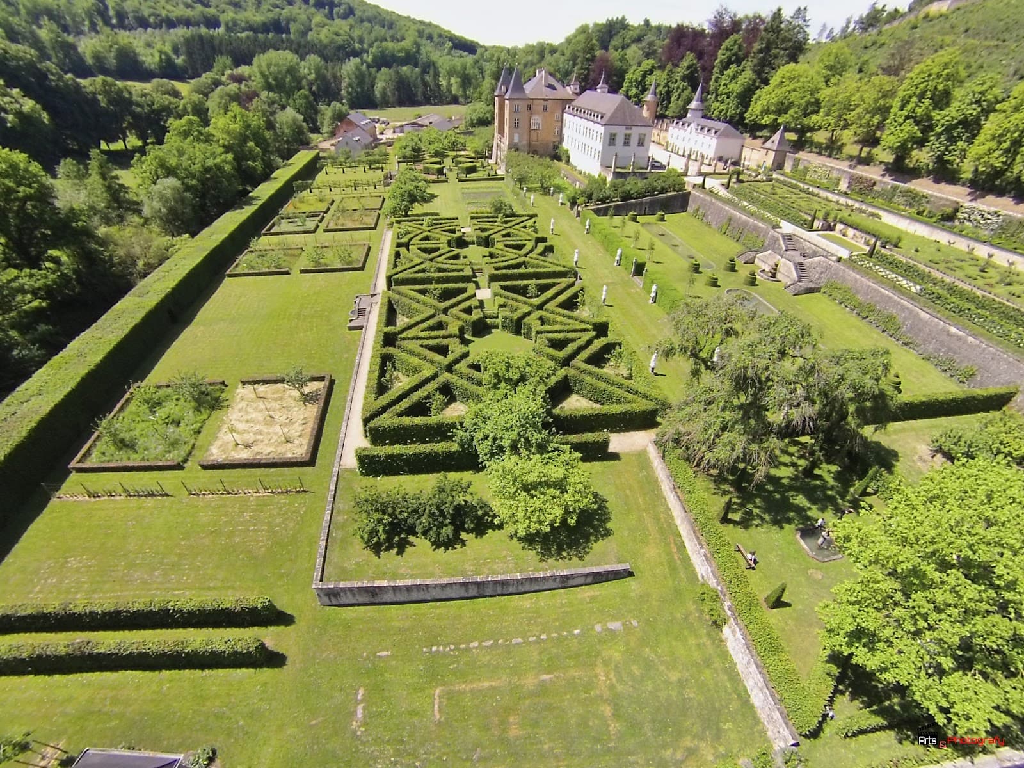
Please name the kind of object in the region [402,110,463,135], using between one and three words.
barn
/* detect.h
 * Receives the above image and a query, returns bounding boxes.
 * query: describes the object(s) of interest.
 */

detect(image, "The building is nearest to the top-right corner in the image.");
[761,127,791,168]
